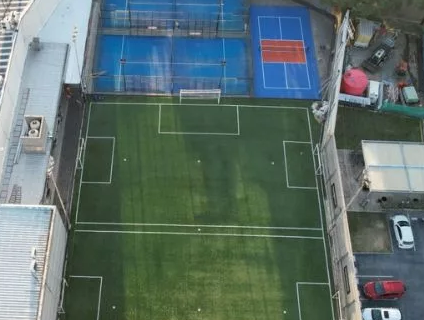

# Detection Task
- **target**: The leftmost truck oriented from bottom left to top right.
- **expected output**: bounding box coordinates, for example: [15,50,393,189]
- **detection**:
[362,35,400,73]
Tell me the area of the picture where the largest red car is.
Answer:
bottom right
